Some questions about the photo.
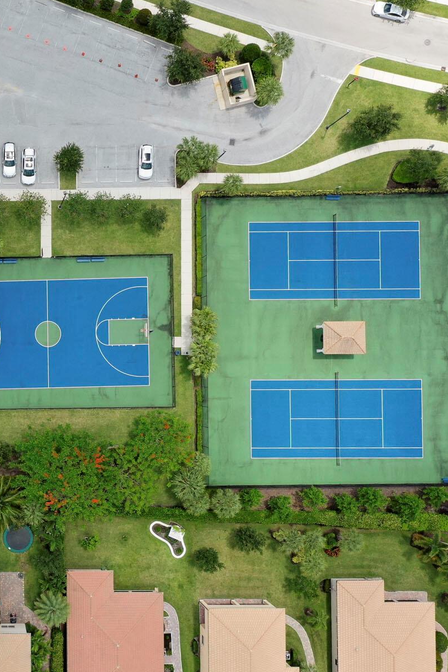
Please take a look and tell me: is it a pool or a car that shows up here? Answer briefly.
car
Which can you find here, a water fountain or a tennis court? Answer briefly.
tennis court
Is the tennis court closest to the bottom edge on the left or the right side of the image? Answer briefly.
right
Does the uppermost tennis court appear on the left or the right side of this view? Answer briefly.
right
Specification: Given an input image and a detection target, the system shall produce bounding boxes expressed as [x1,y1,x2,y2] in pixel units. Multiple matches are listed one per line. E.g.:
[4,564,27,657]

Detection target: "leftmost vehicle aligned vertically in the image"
[1,140,17,177]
